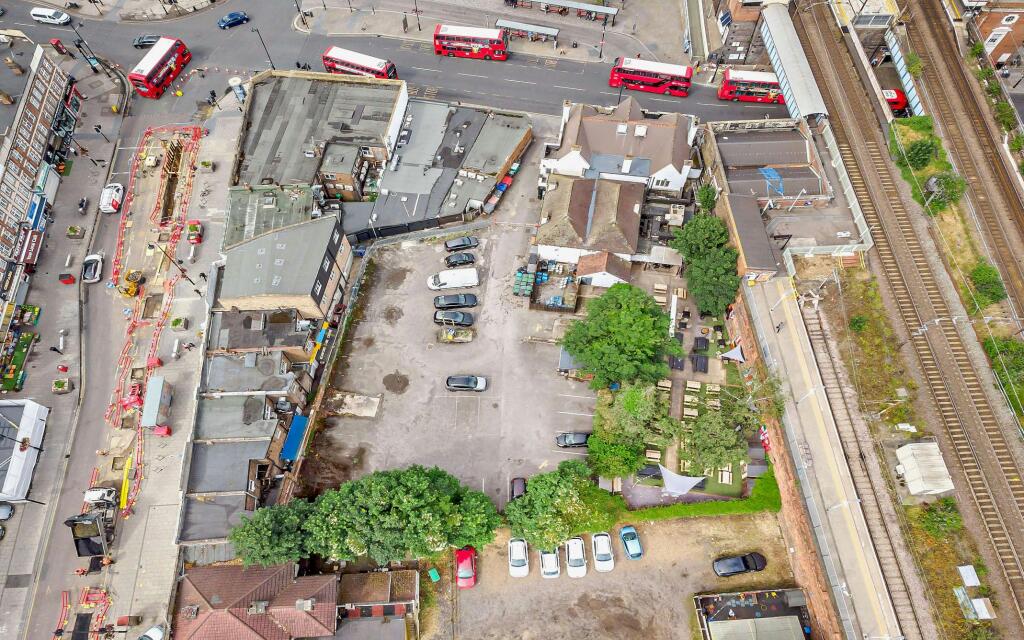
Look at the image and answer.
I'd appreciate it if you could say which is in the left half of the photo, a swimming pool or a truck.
truck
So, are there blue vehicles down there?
Yes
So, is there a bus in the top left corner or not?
Yes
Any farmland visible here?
No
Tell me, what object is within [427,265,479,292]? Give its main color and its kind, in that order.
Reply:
white vehicle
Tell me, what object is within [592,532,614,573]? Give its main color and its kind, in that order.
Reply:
white car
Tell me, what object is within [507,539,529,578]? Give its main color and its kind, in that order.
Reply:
white car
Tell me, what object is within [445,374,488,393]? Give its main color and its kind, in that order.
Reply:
gray car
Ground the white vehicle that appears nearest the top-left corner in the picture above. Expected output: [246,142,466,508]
[24,2,74,28]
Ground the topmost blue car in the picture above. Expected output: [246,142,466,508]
[216,10,249,31]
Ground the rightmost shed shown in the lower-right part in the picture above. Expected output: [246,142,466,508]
[886,443,954,498]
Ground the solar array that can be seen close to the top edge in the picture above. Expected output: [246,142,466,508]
[716,8,729,44]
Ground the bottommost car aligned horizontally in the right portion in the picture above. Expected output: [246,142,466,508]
[711,551,769,580]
